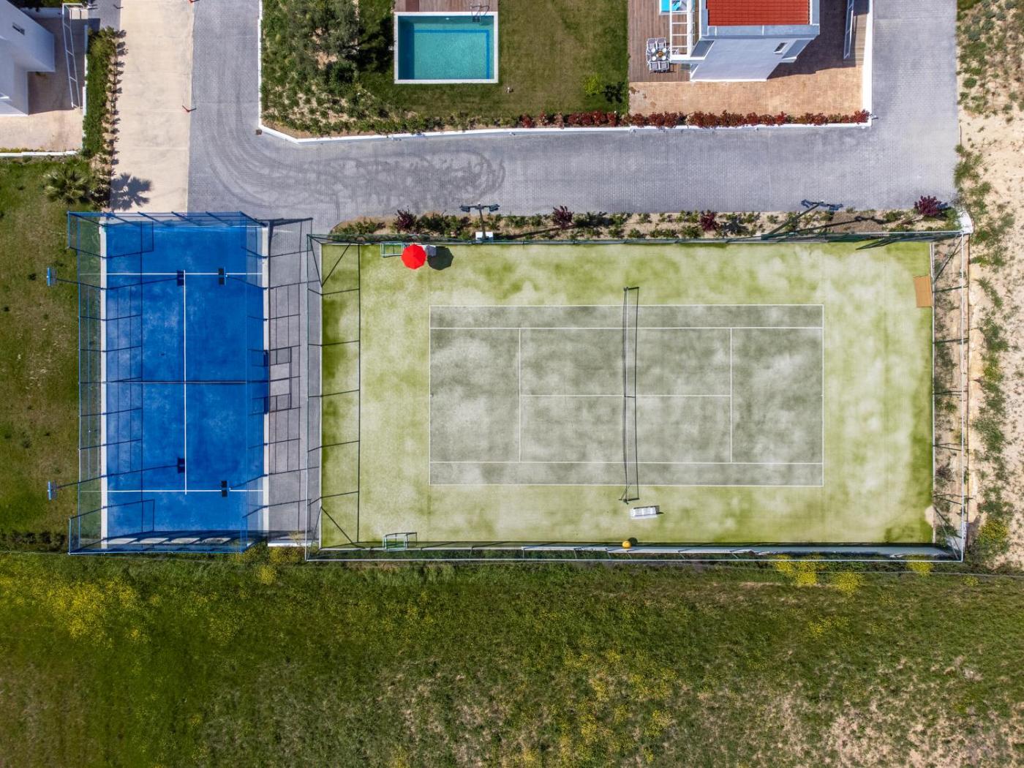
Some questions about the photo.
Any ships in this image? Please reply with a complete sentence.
No, I find no ship anywhere in the image.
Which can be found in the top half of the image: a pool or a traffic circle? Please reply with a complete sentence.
What appears in the top half of the image is a pool.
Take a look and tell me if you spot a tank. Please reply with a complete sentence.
No, the frame has no tank in it.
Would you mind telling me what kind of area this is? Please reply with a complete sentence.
It's a sports ground.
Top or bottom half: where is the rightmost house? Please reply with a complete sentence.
It is in the top half that the rightmost house appears.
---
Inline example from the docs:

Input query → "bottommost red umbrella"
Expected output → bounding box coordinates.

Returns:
[402,243,427,269]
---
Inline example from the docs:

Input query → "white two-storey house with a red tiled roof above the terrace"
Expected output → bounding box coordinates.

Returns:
[688,0,819,80]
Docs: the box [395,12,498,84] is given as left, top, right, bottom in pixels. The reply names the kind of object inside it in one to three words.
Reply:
swimming pool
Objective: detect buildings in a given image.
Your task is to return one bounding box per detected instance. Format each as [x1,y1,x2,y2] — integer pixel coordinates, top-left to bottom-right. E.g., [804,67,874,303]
[688,0,819,80]
[0,0,55,115]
